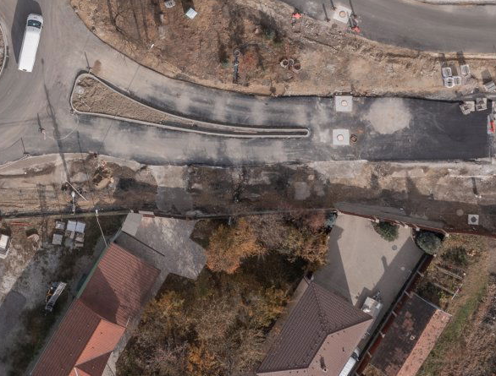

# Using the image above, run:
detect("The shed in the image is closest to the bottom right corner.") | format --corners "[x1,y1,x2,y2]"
[366,291,452,376]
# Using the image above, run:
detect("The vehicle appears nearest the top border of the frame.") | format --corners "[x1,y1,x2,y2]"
[17,12,45,73]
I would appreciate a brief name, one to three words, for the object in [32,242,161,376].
house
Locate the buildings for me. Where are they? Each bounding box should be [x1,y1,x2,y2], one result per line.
[256,281,373,376]
[32,242,161,376]
[366,291,452,376]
